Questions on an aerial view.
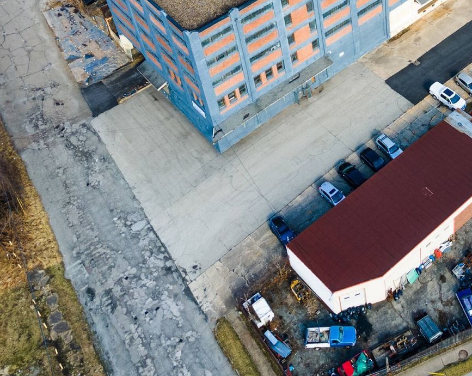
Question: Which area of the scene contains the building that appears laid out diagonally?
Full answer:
The building that appears laid out diagonally is located in the right region of the scene.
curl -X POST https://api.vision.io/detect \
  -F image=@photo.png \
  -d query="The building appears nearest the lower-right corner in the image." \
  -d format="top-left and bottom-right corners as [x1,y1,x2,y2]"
[285,110,472,311]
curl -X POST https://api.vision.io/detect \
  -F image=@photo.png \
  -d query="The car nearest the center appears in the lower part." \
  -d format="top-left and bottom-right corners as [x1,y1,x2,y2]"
[265,214,297,250]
